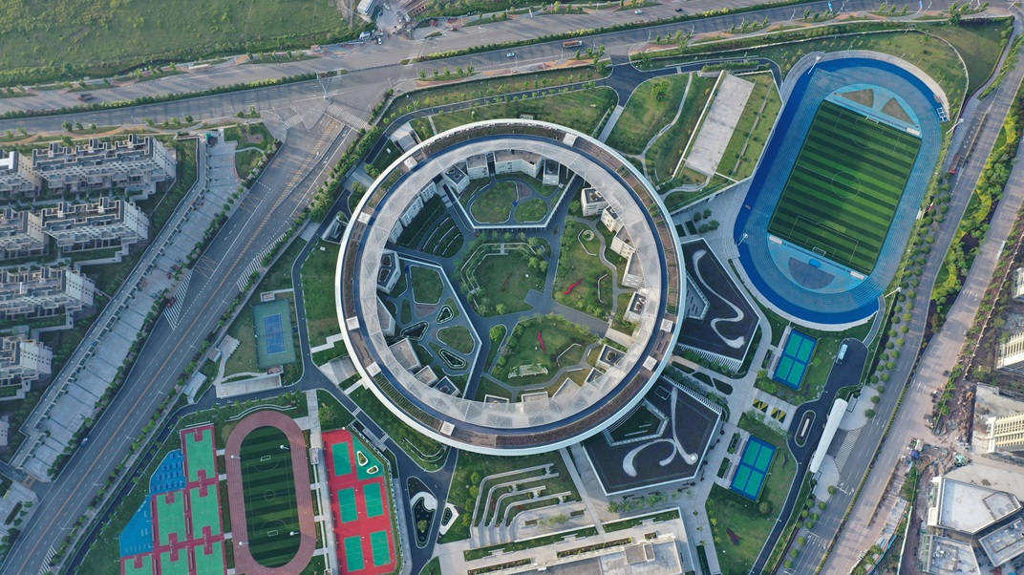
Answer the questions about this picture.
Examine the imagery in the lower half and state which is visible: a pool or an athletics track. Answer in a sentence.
The one visible in the lower half is an athletics track.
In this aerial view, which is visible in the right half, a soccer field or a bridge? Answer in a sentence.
Looking in the right half, you will find a soccer field.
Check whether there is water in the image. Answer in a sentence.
No, the scene doesn't show any water.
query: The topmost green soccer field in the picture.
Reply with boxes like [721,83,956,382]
[765,97,924,278]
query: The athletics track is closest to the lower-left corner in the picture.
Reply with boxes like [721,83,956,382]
[223,409,318,575]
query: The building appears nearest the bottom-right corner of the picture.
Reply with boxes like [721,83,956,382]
[969,518,1024,566]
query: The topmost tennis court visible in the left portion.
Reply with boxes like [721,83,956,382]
[255,299,296,368]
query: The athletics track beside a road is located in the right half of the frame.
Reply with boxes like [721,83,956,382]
[729,50,950,331]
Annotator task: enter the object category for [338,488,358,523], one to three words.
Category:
sports court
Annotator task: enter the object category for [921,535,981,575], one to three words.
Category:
house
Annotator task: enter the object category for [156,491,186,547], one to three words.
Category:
basketball court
